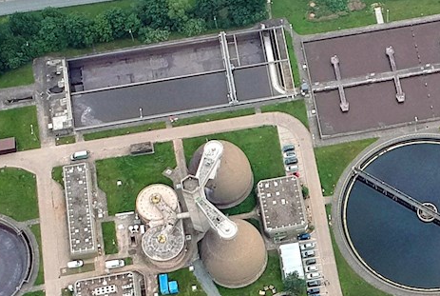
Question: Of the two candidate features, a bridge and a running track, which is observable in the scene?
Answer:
bridge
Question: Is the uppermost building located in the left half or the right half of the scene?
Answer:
left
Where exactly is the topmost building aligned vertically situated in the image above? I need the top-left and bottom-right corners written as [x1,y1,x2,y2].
[34,56,69,133]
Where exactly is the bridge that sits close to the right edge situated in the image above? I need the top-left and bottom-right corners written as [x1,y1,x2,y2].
[351,164,440,220]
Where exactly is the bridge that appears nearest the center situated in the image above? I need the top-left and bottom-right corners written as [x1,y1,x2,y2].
[199,134,226,182]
